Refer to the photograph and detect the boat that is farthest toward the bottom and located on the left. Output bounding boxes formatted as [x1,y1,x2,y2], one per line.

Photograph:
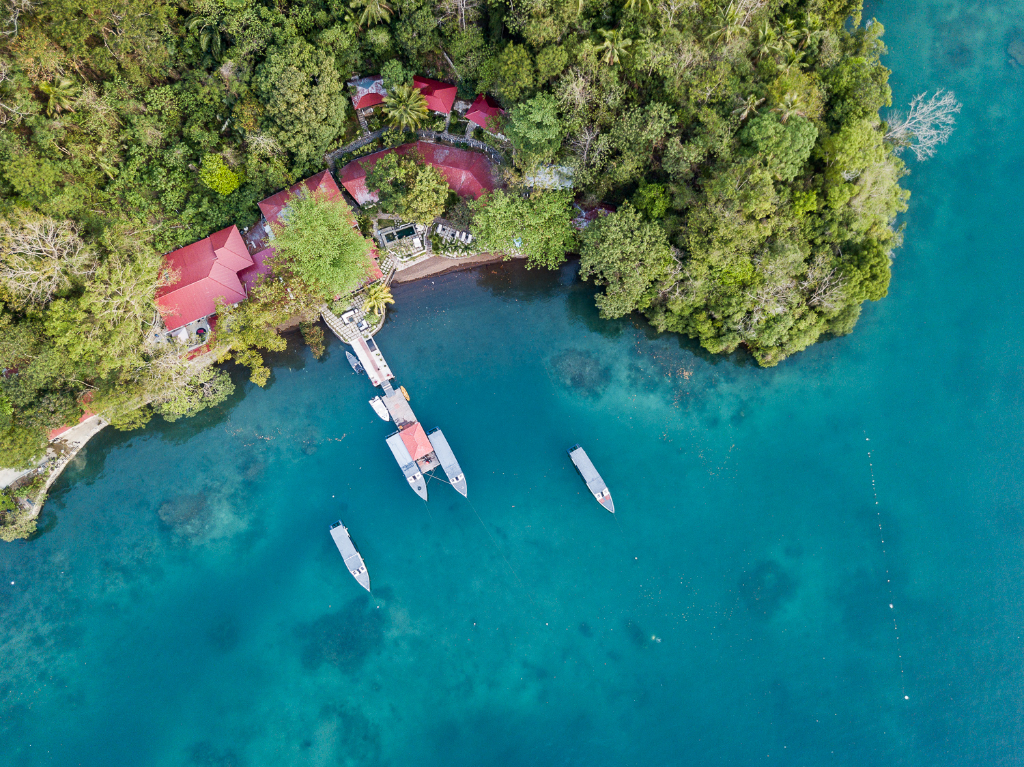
[329,520,370,593]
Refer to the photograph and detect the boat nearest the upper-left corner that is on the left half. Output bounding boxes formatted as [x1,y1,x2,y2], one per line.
[345,351,364,374]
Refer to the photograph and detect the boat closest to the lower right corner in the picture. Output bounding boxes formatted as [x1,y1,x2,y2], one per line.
[566,443,615,514]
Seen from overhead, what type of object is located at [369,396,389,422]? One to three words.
boat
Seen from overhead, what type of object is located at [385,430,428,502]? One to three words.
boat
